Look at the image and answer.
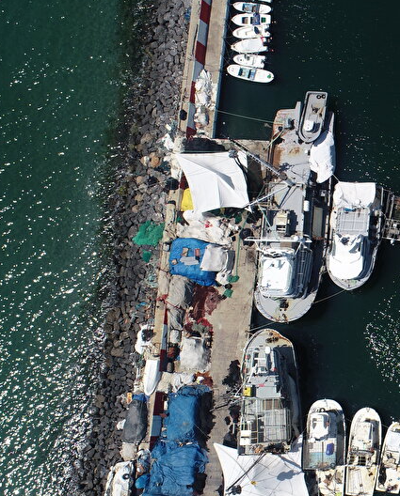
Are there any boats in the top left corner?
No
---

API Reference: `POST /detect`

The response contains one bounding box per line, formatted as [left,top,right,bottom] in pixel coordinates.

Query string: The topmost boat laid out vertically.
[299,90,328,144]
